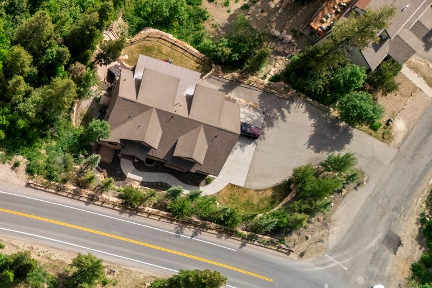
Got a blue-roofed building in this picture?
No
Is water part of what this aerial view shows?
No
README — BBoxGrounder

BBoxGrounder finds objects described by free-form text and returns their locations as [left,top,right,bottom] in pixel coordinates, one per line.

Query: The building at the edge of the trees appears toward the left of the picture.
[96,54,240,178]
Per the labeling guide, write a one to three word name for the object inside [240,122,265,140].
car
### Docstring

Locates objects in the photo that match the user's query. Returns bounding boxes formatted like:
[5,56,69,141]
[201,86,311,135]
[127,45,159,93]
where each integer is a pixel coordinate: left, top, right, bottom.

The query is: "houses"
[96,54,240,178]
[338,0,432,76]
